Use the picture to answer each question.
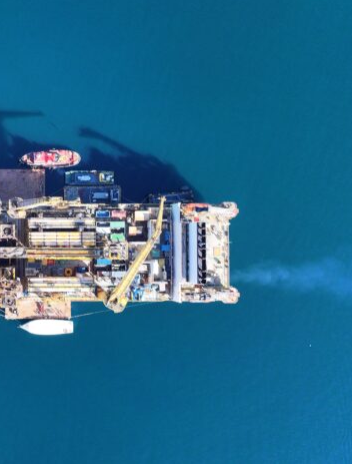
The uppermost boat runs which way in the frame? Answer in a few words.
from left to right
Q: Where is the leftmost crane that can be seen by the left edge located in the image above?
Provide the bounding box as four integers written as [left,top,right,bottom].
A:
[2,194,56,216]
